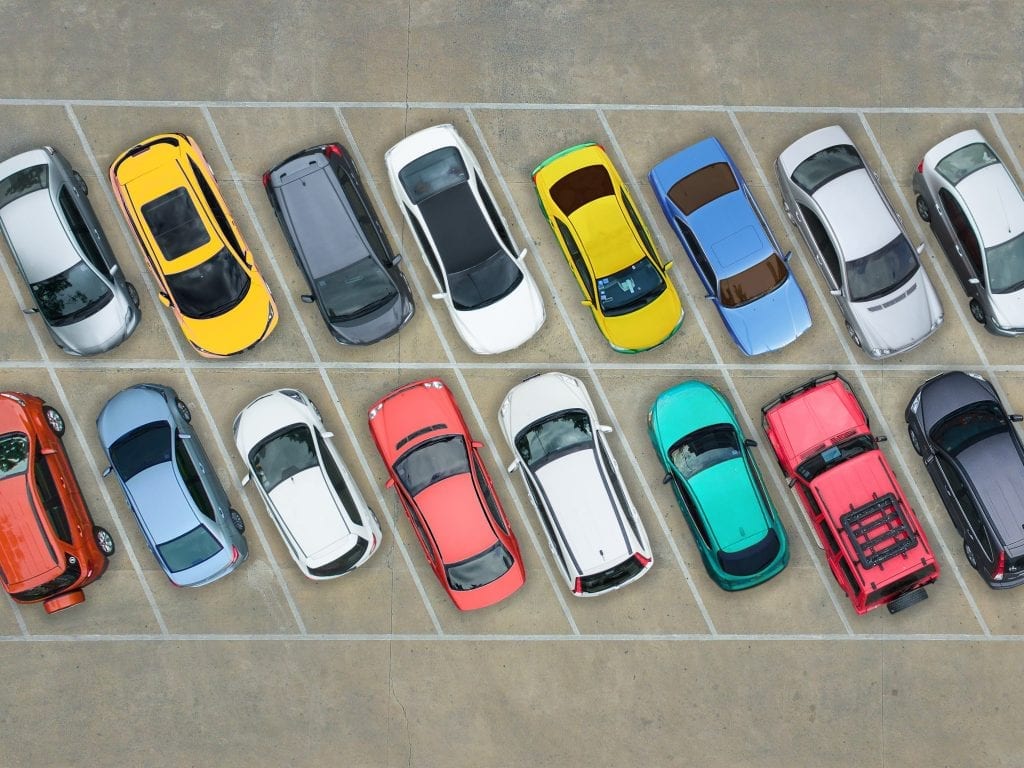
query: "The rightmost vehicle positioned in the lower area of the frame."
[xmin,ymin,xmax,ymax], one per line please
[902,372,1024,588]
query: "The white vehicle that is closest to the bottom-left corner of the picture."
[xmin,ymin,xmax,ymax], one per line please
[233,387,380,584]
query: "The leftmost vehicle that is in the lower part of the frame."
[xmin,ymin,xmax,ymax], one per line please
[0,395,113,613]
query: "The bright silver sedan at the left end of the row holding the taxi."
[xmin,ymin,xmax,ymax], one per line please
[0,142,143,353]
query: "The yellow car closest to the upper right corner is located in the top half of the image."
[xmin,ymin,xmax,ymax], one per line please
[532,146,678,356]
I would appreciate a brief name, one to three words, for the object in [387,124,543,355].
car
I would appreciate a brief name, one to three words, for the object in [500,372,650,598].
car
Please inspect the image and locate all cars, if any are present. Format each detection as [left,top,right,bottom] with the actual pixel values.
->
[112,130,277,357]
[773,127,946,360]
[94,383,247,591]
[0,142,143,353]
[646,141,809,357]
[0,395,113,613]
[902,372,1024,588]
[532,146,678,356]
[762,373,938,613]
[649,380,787,593]
[233,387,380,584]
[387,124,543,355]
[369,380,526,612]
[500,372,650,598]
[911,131,1024,339]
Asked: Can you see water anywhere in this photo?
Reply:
No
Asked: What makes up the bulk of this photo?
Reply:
paved ground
